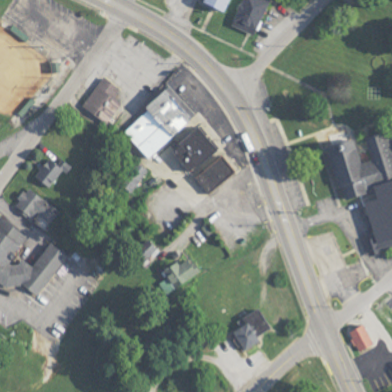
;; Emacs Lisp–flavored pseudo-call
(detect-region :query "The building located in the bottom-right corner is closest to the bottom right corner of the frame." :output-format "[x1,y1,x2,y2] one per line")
[350,326,374,353]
